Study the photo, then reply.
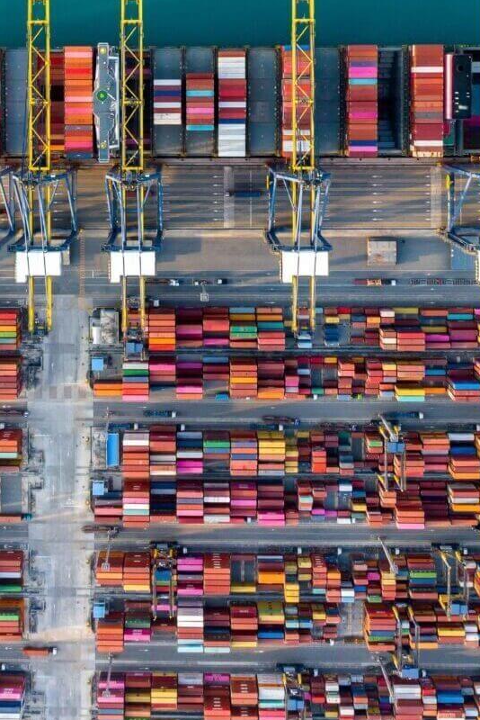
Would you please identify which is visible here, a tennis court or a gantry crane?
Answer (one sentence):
This aerial view contains a gantry crane.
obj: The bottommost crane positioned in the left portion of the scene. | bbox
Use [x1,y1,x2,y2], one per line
[152,539,177,620]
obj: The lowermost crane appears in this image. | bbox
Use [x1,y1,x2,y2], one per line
[277,659,305,720]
